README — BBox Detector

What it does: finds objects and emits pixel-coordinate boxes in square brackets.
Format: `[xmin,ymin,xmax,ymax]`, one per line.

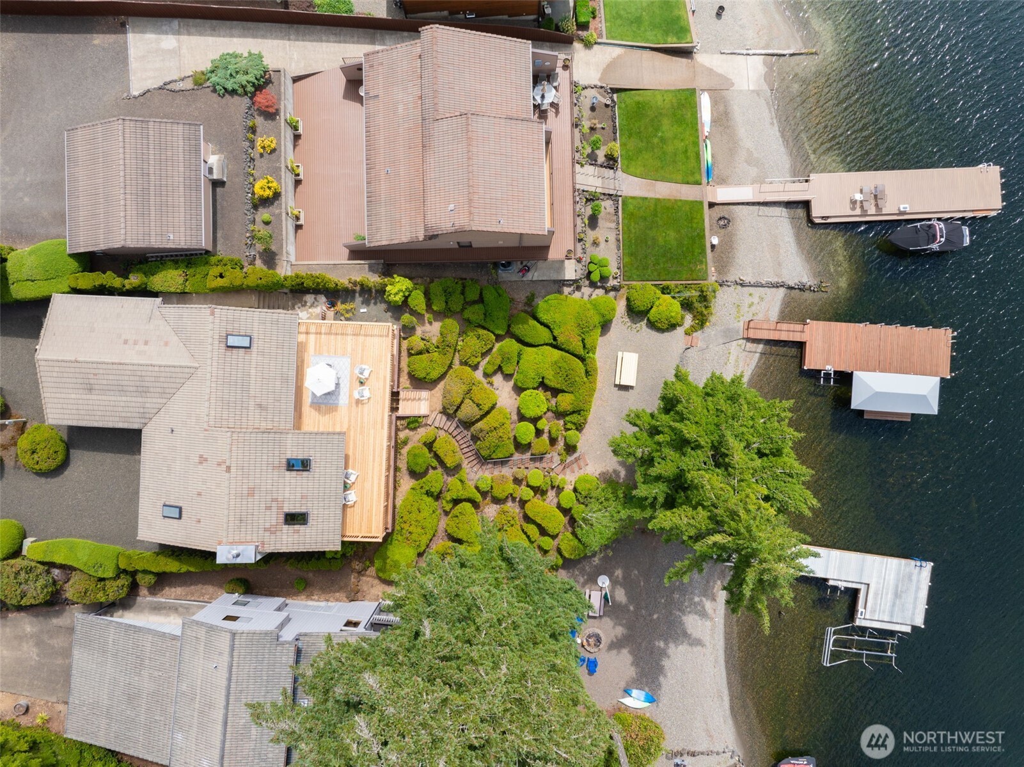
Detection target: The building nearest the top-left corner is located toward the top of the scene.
[63,117,213,254]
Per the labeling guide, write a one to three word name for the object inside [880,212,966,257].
boat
